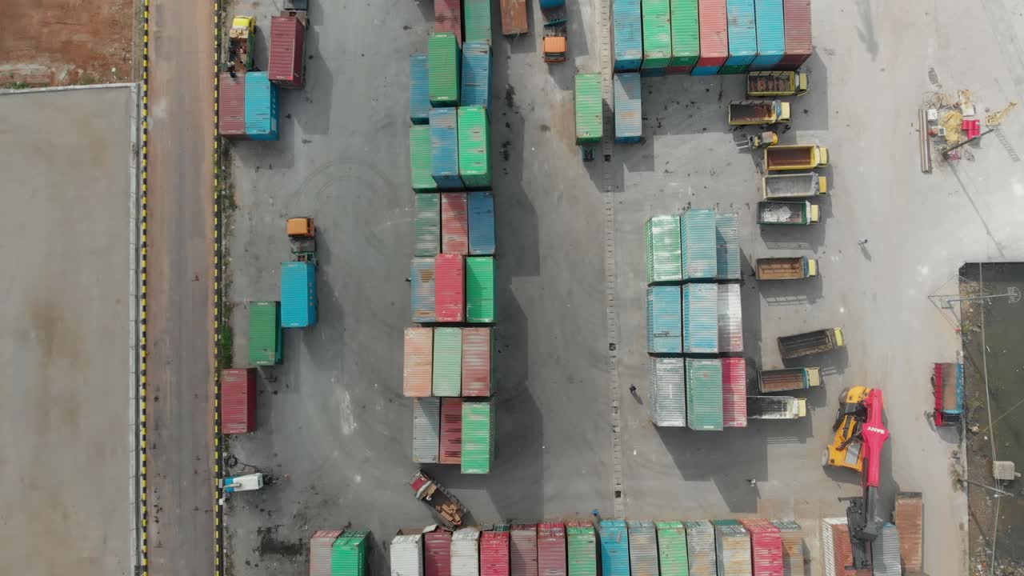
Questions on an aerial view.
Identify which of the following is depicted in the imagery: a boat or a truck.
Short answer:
truck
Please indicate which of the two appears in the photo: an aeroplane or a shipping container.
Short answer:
shipping container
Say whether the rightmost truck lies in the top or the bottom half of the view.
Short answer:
bottom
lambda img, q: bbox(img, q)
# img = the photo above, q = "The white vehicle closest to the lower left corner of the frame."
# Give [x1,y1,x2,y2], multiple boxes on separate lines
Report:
[220,471,281,497]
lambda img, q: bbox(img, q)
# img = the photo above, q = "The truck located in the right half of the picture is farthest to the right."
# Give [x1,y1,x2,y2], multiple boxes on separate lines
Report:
[928,362,967,426]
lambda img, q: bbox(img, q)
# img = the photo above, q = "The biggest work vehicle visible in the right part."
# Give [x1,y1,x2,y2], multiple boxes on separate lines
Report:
[821,383,892,574]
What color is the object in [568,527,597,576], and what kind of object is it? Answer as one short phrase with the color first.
green shipping container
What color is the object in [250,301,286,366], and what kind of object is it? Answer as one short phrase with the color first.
green shipping container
